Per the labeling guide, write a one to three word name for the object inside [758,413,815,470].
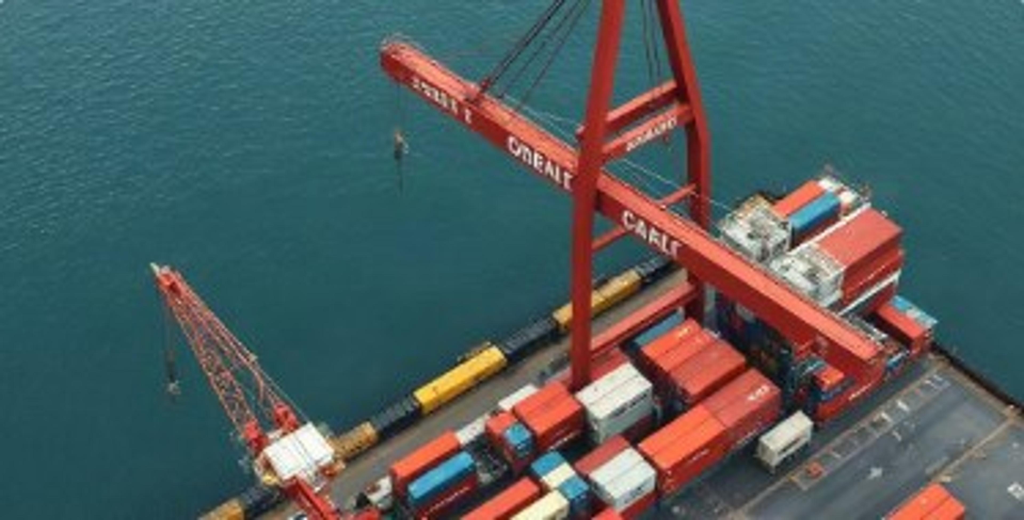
trailer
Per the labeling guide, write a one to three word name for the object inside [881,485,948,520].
shipping container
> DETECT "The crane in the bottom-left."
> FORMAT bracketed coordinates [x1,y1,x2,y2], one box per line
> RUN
[141,260,361,520]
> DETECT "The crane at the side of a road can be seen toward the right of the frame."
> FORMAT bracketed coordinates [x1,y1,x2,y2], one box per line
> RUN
[381,0,885,425]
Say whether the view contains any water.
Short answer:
Yes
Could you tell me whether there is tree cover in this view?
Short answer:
No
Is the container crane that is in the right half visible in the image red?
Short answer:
Yes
